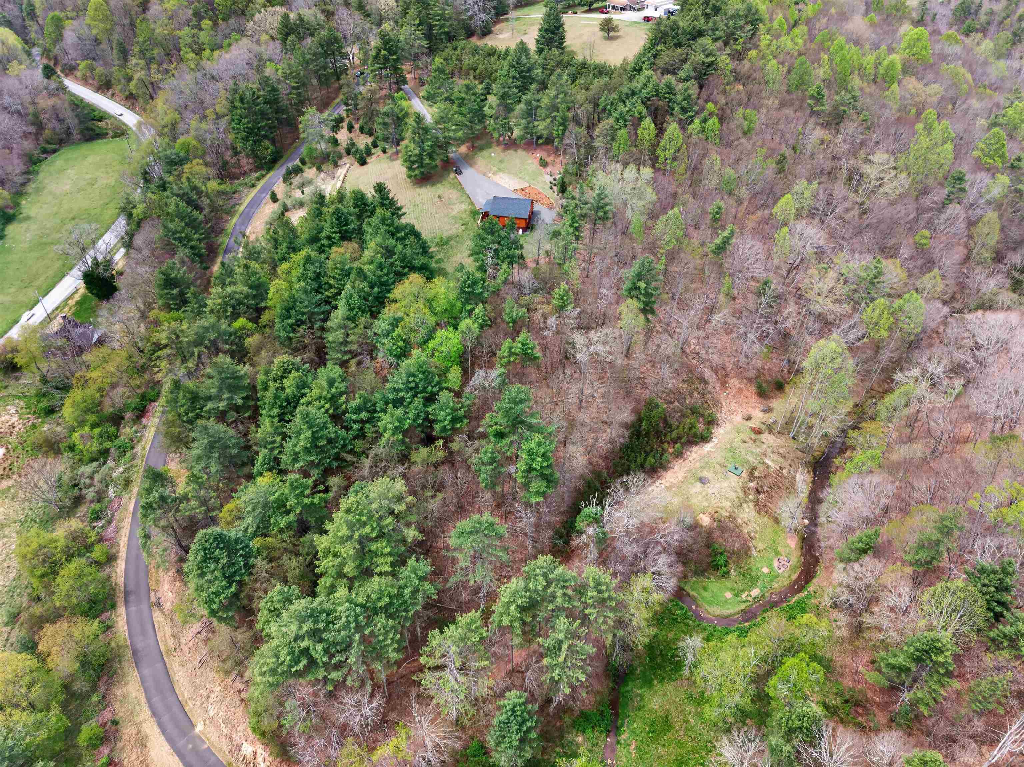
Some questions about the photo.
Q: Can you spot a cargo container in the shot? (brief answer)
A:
No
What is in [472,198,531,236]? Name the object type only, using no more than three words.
building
